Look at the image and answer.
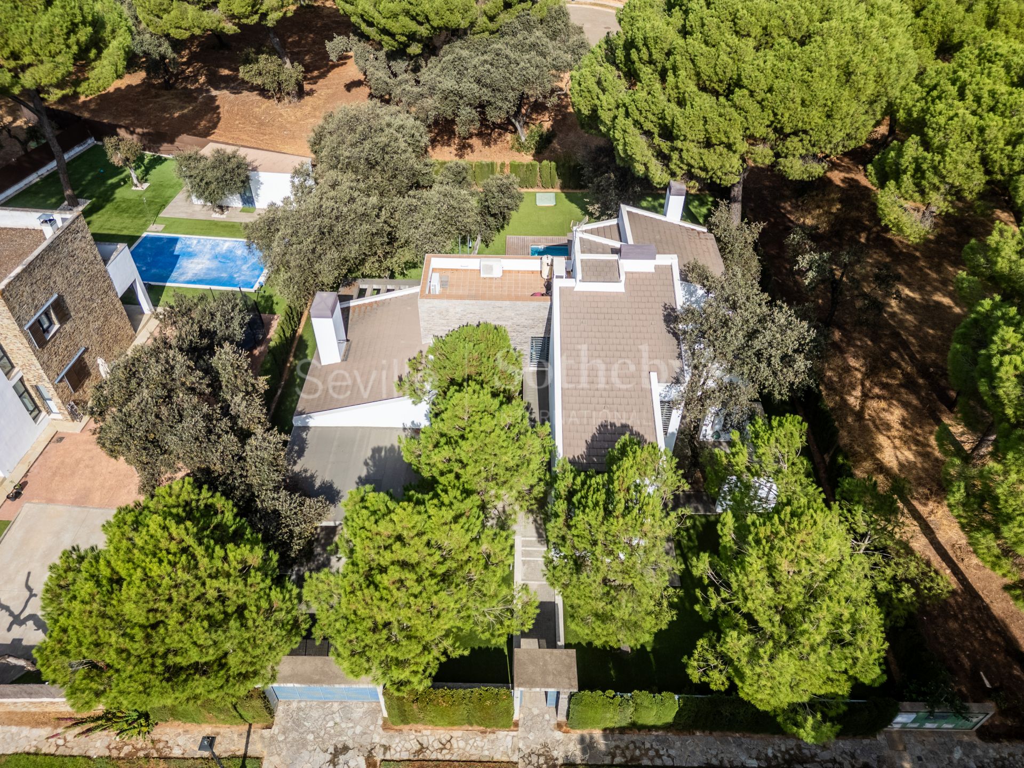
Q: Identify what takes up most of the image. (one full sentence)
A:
The scene is dominated by trees.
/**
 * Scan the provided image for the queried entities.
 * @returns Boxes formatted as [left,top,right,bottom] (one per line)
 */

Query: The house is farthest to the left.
[0,198,162,535]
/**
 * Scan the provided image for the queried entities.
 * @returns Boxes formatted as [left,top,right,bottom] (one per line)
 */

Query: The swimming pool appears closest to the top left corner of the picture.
[138,232,257,291]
